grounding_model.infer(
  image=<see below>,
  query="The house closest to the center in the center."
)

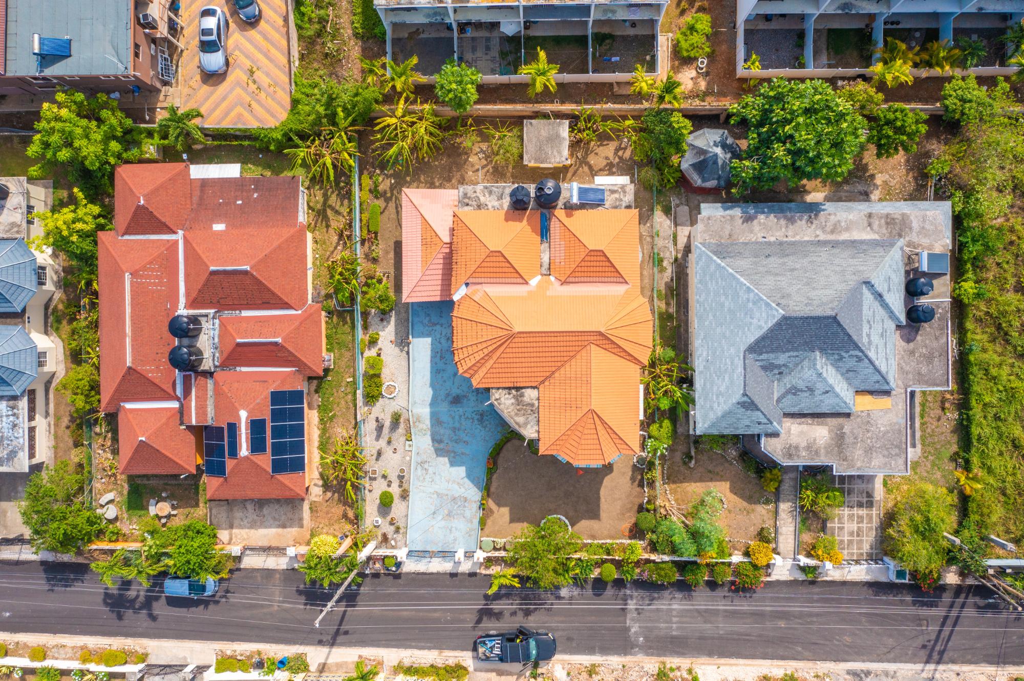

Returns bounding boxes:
[402,185,654,467]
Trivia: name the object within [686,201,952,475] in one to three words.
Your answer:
house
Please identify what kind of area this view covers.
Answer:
residential area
